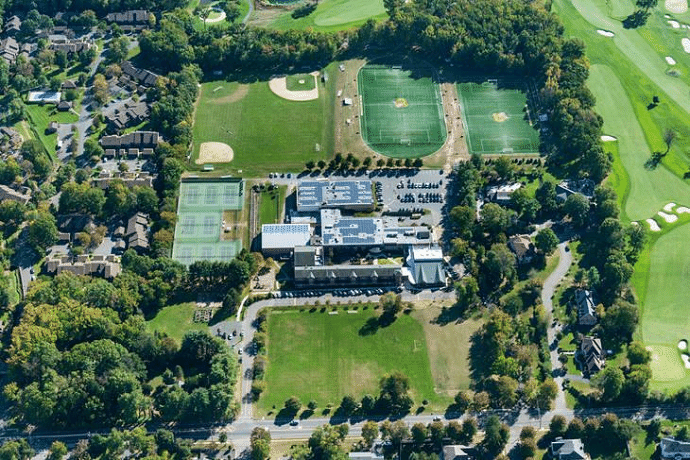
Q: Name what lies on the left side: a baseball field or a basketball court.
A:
baseball field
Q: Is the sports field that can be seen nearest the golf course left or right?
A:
right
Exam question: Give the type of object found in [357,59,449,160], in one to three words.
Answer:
sports field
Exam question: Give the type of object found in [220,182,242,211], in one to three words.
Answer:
tennis court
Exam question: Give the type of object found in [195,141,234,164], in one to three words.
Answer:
baseball field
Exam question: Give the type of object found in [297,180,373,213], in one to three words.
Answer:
building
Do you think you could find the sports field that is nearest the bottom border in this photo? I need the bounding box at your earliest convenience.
[253,306,447,421]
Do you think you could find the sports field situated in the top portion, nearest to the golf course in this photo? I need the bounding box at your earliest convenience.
[455,77,543,154]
